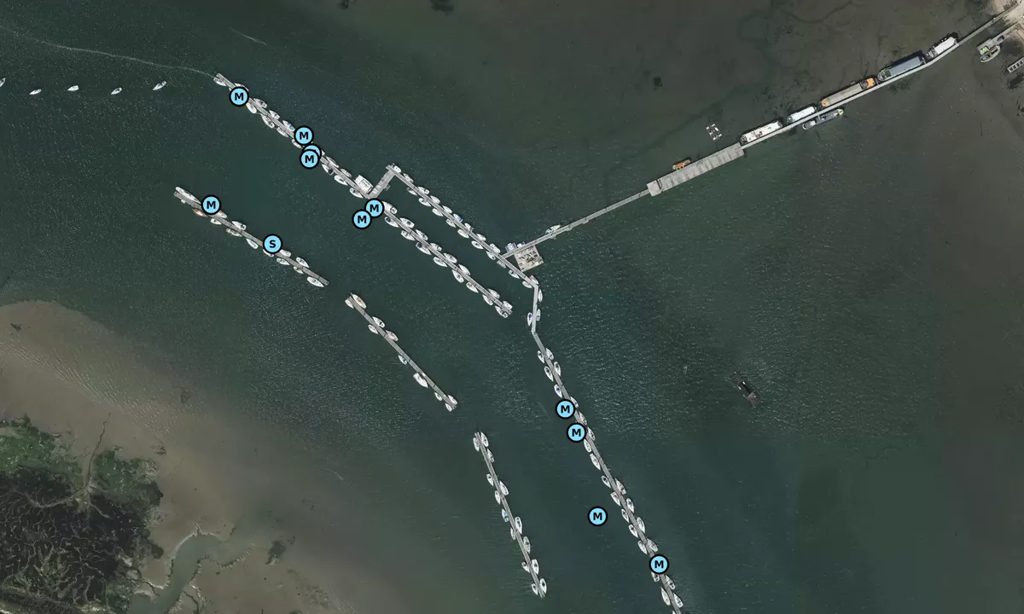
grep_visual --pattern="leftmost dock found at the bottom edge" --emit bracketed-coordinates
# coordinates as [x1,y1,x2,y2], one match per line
[475,433,545,598]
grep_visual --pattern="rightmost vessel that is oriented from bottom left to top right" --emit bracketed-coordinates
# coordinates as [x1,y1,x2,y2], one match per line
[980,46,1001,62]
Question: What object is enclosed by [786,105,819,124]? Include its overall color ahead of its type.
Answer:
white boat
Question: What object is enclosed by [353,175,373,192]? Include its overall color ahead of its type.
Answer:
white boat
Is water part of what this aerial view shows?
Yes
